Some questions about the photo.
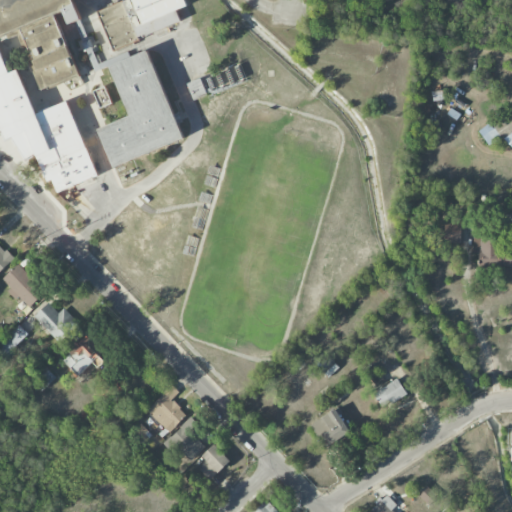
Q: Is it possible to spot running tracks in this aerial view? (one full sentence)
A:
Yes, the photo shows a running track.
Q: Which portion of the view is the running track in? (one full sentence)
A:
Look in the center portion of the view to spot the running track.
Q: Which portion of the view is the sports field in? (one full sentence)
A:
The sports field is located in the center region of the scene.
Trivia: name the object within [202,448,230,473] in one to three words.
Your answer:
house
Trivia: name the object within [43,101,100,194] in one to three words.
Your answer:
building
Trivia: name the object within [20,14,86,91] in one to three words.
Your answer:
building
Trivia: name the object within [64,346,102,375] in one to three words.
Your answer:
house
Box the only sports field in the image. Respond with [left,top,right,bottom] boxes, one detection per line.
[183,103,342,358]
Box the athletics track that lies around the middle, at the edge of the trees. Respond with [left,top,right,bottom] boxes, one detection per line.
[180,100,345,361]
